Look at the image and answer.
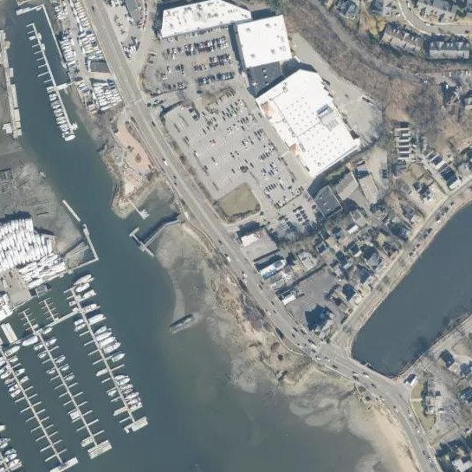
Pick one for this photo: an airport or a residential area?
residential area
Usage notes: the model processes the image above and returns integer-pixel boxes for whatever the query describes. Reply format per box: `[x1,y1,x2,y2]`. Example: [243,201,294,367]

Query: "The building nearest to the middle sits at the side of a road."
[242,229,278,260]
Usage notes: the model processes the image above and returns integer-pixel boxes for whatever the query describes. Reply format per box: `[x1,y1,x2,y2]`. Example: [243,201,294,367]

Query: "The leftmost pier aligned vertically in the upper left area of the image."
[0,31,22,136]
